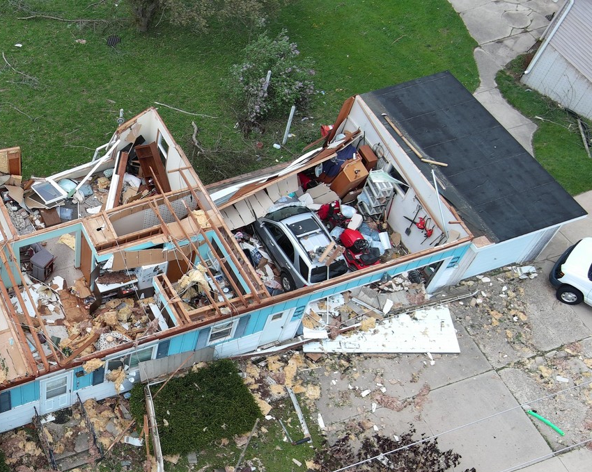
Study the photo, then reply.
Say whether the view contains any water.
No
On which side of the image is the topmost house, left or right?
right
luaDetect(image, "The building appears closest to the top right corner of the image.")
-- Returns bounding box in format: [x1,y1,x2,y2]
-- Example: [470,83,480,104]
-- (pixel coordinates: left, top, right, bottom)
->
[506,0,592,114]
